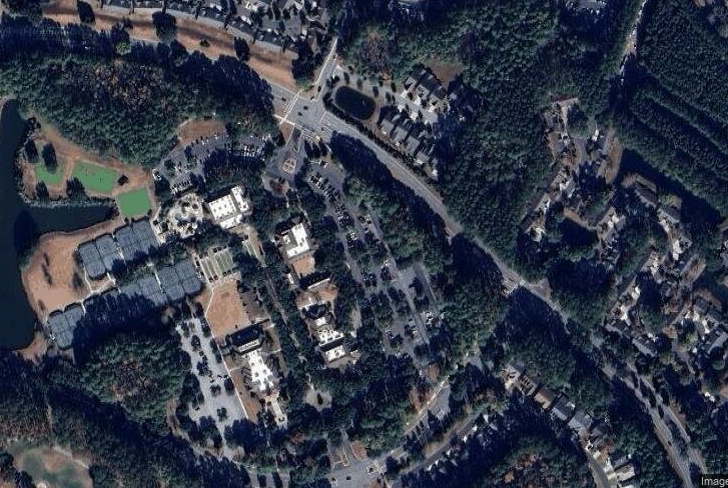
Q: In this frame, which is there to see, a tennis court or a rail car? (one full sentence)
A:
The image shows a tennis court.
